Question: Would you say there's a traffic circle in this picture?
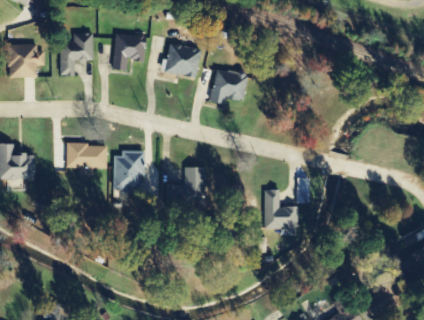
No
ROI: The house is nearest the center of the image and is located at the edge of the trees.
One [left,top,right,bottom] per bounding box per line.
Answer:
[164,167,204,200]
